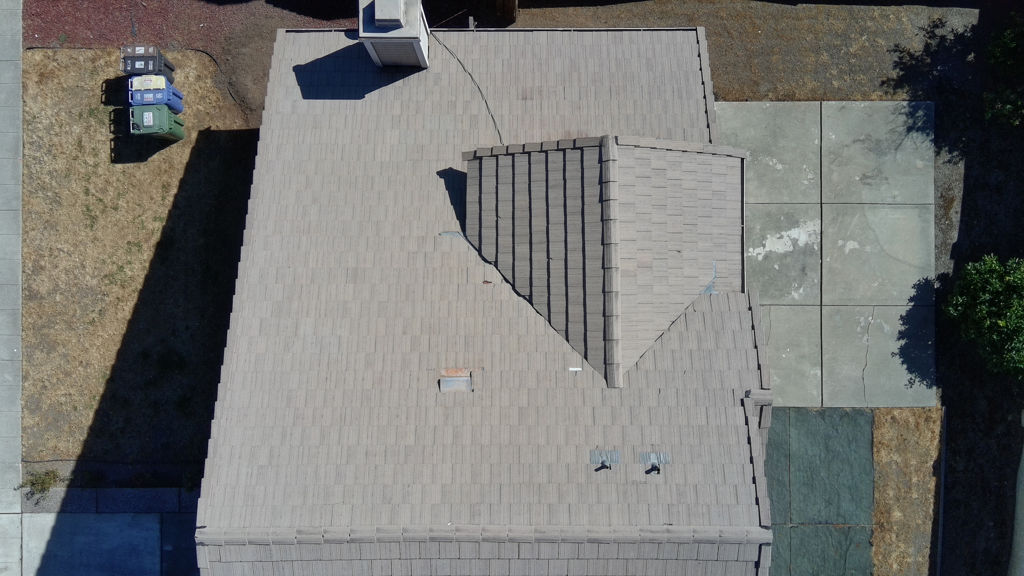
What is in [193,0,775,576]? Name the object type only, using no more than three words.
house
